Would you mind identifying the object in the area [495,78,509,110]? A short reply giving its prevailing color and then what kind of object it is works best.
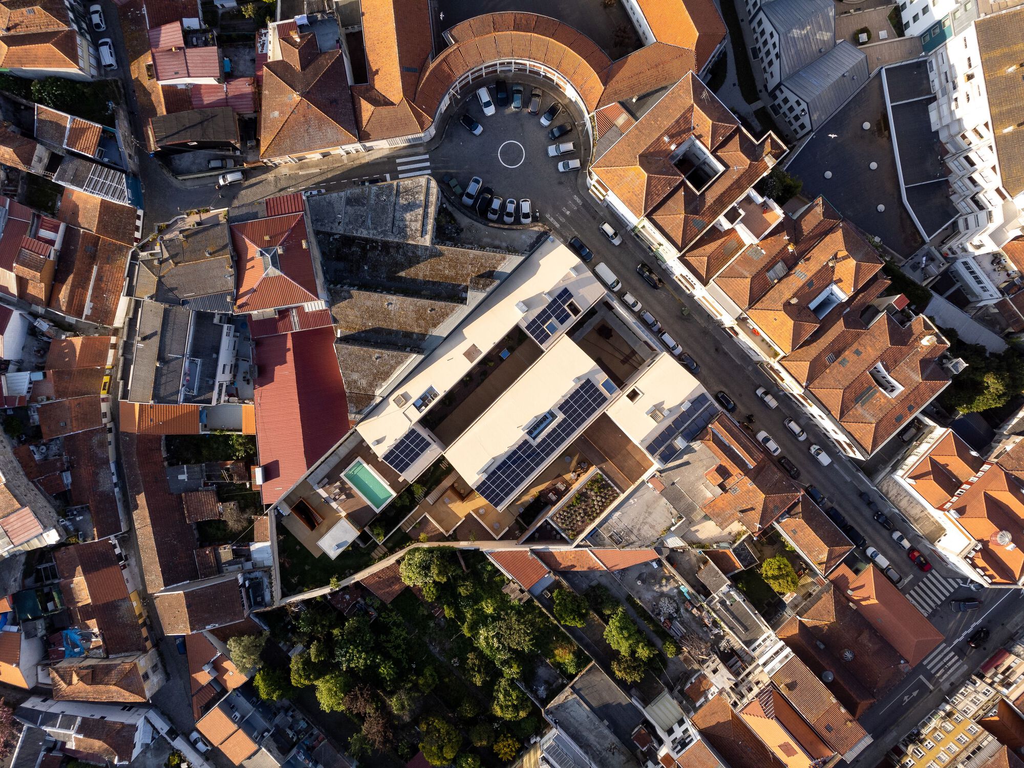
black car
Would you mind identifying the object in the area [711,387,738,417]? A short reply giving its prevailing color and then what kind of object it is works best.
black car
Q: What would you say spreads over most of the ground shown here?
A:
buildings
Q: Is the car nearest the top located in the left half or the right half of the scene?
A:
left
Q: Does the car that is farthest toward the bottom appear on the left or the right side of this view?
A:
left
